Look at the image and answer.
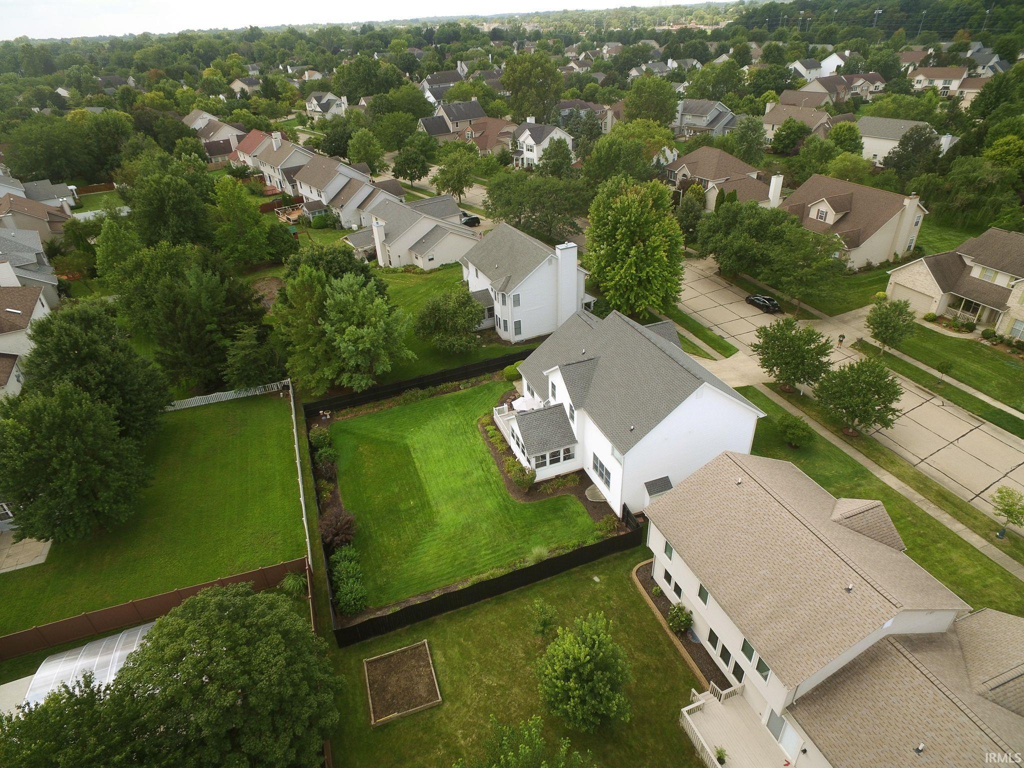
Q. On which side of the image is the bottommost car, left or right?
right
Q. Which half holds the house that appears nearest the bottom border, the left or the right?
right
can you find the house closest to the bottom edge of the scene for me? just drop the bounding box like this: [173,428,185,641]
[640,452,1024,768]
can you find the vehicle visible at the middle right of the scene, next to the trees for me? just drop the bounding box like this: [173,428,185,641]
[743,294,785,315]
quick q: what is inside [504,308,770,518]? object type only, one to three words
house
